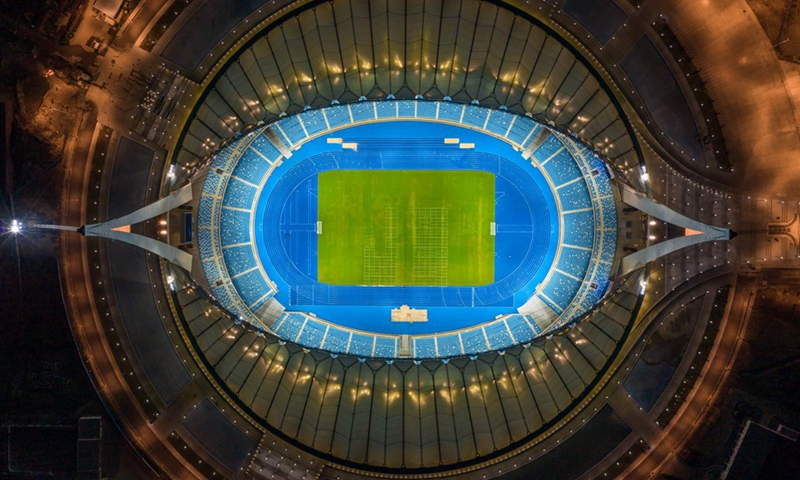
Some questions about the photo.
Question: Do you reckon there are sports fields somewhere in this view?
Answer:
Yes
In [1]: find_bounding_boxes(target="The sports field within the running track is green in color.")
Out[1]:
[318,170,495,287]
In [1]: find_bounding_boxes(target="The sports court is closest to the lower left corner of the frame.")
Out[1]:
[8,425,78,475]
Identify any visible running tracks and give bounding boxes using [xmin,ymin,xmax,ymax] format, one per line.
[255,122,559,335]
